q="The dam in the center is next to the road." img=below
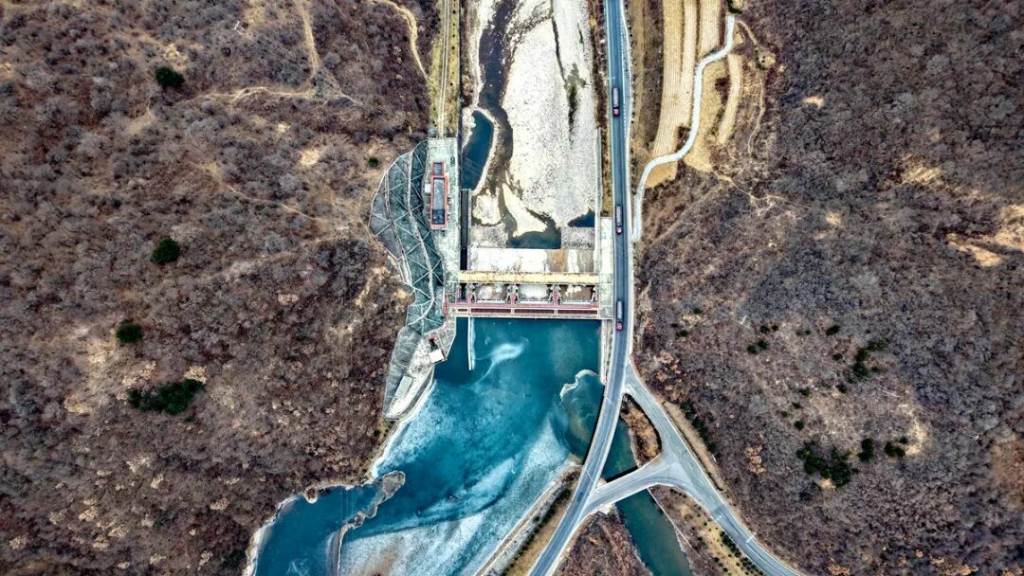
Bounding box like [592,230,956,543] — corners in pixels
[445,190,613,370]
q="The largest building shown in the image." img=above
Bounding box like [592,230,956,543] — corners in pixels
[425,163,447,227]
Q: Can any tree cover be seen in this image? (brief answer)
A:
Yes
